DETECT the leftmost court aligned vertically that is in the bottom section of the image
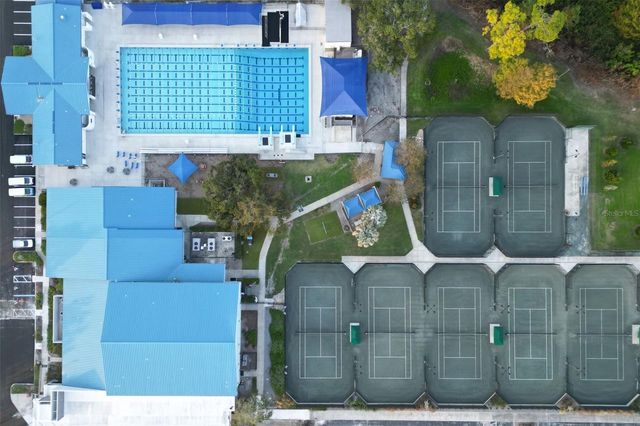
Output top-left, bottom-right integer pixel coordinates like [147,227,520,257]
[286,265,355,404]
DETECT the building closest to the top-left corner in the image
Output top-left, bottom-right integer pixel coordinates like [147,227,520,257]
[1,0,94,166]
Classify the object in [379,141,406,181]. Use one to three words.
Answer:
building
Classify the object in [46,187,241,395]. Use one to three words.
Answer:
building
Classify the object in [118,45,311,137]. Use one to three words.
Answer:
swimming pool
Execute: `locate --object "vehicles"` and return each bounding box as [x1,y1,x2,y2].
[14,239,35,248]
[9,154,32,164]
[8,176,33,186]
[8,187,34,197]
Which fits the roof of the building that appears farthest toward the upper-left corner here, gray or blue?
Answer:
blue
